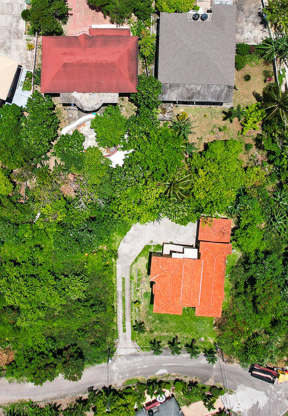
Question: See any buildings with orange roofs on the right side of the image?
Yes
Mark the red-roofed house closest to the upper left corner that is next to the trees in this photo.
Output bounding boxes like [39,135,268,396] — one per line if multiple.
[40,24,138,111]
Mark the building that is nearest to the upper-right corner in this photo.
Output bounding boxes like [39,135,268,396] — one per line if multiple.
[158,4,237,102]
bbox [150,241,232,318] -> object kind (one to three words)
house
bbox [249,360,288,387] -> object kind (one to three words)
truck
